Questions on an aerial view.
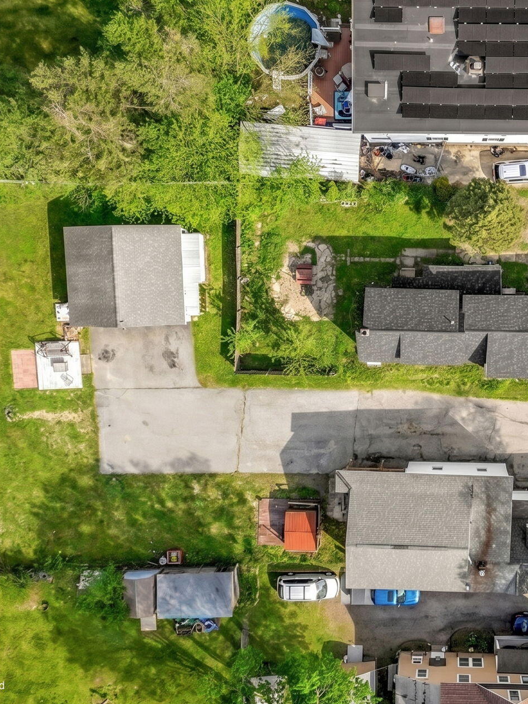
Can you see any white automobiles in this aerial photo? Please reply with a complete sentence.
Yes, this view includes a white automobile.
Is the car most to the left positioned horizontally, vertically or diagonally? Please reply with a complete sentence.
I'd say the car most to the left is aligned horizontally in the picture.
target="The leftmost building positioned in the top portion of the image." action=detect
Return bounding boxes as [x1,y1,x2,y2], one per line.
[64,225,191,327]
